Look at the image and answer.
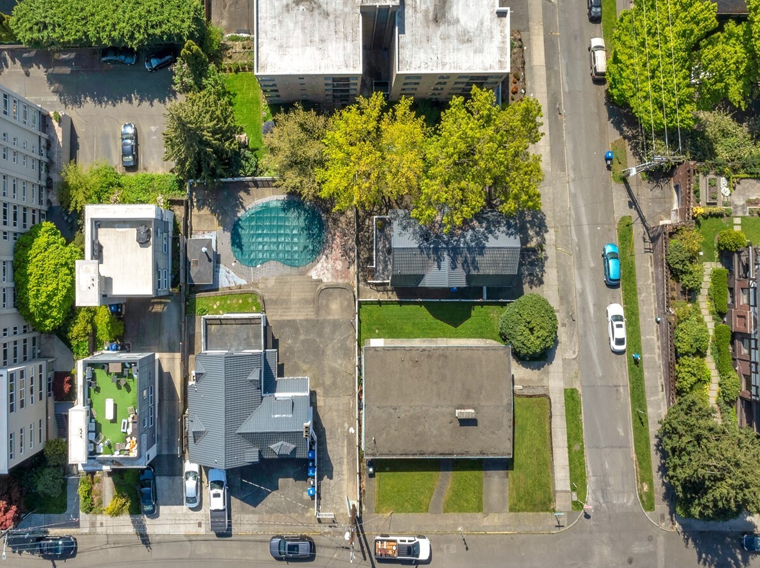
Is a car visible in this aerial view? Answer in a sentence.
Yes, a car appears in the view.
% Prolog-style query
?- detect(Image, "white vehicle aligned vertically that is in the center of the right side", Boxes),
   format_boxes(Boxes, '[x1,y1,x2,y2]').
[604,302,628,353]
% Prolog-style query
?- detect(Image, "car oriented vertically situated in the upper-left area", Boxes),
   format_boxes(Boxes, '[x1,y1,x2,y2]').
[118,120,141,171]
